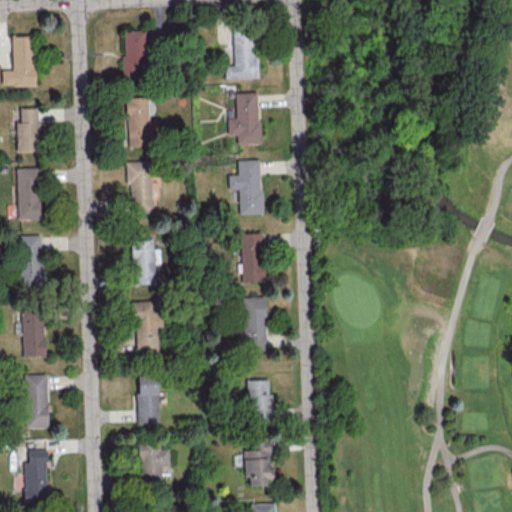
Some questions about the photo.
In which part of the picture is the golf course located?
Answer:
right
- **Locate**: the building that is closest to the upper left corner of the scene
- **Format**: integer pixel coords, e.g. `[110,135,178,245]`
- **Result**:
[2,36,37,87]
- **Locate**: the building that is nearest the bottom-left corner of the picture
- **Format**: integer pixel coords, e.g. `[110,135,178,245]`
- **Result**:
[24,449,50,508]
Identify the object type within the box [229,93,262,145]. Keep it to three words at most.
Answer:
house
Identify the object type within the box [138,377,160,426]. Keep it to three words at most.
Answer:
house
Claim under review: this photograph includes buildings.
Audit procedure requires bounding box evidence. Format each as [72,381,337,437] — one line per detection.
[244,444,276,488]
[242,234,266,282]
[138,446,171,480]
[229,93,262,145]
[23,304,48,358]
[26,375,50,430]
[17,107,40,153]
[132,238,156,286]
[16,168,43,220]
[20,234,42,288]
[138,377,160,426]
[135,302,164,352]
[122,31,147,84]
[126,162,154,216]
[230,160,264,216]
[227,28,262,80]
[128,98,148,149]
[24,449,50,508]
[248,379,273,422]
[2,36,37,87]
[254,504,277,512]
[244,297,268,354]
